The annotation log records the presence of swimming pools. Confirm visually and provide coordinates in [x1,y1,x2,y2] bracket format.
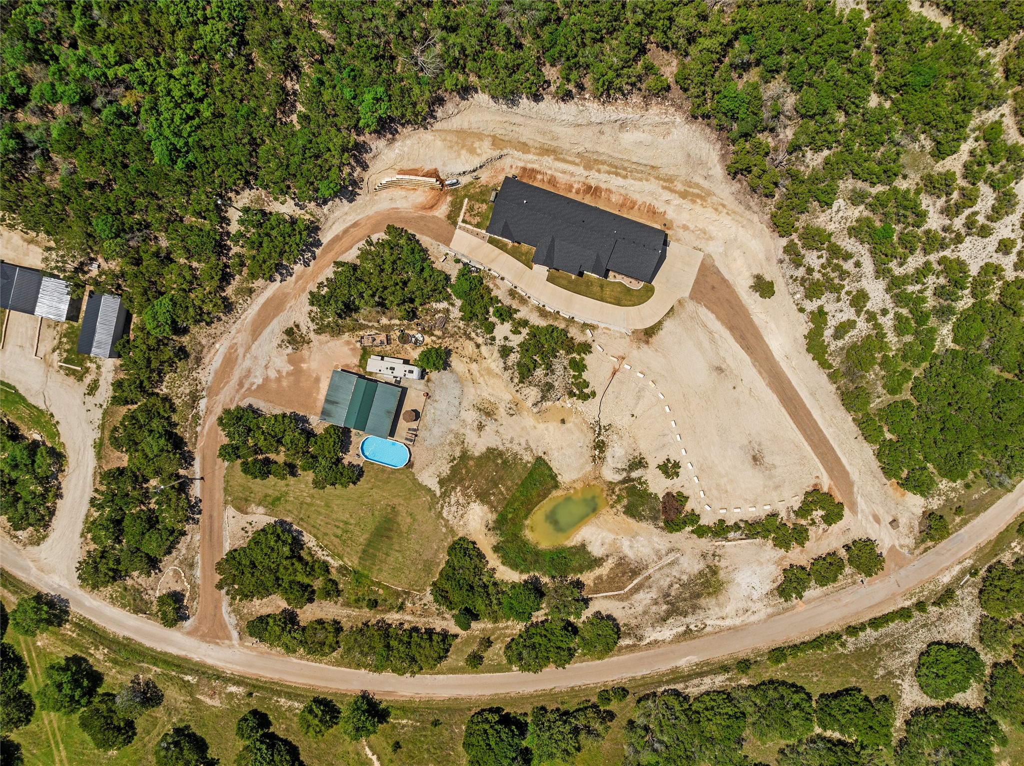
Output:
[360,436,410,468]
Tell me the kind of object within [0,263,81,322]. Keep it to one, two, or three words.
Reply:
barn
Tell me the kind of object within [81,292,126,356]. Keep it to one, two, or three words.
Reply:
shed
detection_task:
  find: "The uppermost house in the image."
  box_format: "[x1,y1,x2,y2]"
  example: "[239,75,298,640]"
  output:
[486,175,665,282]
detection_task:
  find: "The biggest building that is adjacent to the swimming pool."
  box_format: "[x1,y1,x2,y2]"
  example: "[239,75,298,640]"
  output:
[320,370,402,440]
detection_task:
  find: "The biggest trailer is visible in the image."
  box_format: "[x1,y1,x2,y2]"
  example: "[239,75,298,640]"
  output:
[366,356,428,382]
